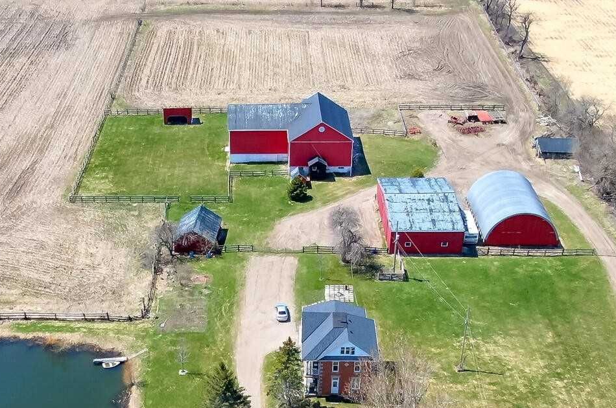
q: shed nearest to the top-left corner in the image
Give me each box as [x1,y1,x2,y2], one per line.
[163,108,193,124]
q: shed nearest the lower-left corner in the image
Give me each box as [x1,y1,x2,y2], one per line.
[172,205,225,255]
